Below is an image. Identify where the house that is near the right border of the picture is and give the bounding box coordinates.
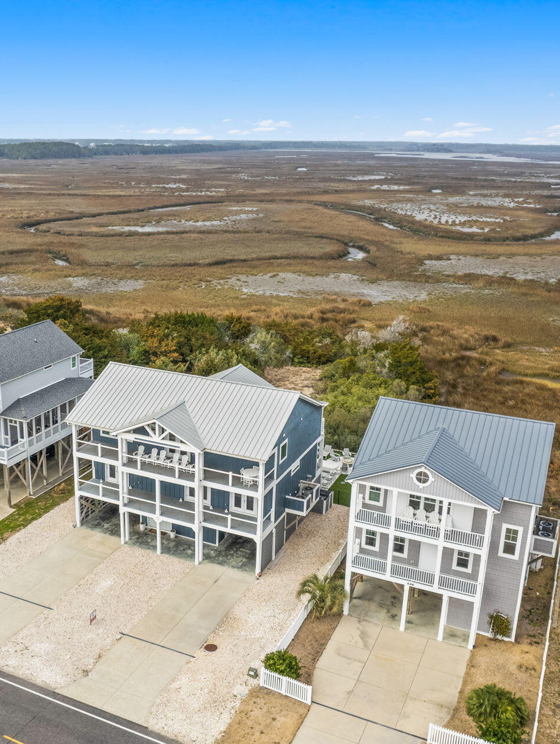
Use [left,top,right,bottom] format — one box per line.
[344,395,560,649]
